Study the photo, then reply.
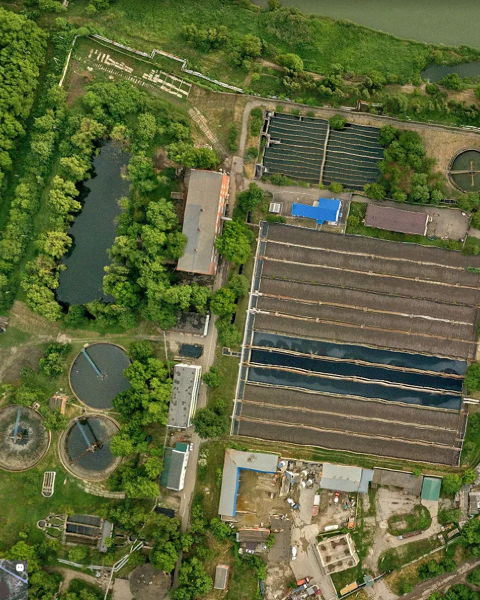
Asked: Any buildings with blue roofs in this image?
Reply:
Yes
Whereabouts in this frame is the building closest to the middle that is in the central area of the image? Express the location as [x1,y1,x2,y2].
[170,312,210,337]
